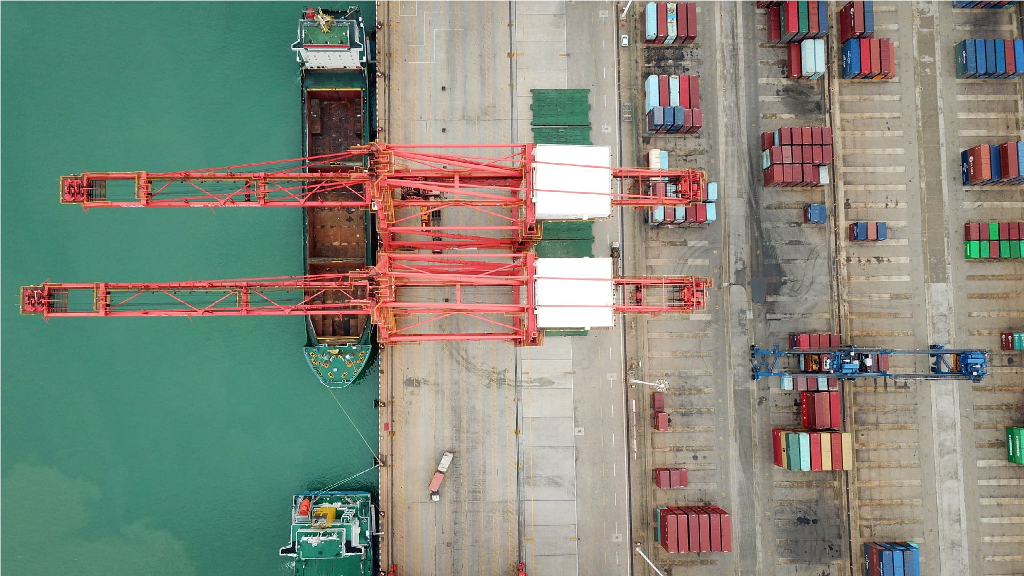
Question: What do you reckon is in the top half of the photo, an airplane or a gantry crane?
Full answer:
There is a gantry crane in the top half of the photo.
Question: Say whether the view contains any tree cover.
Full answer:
No, the scene doesn't show any tree cover.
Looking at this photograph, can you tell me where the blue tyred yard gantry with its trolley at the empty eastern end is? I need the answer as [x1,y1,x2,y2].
[852,343,993,383]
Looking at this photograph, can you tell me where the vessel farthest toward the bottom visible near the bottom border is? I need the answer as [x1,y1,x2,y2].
[280,481,384,576]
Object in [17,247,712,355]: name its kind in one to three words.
container crane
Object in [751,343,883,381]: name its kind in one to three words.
container crane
